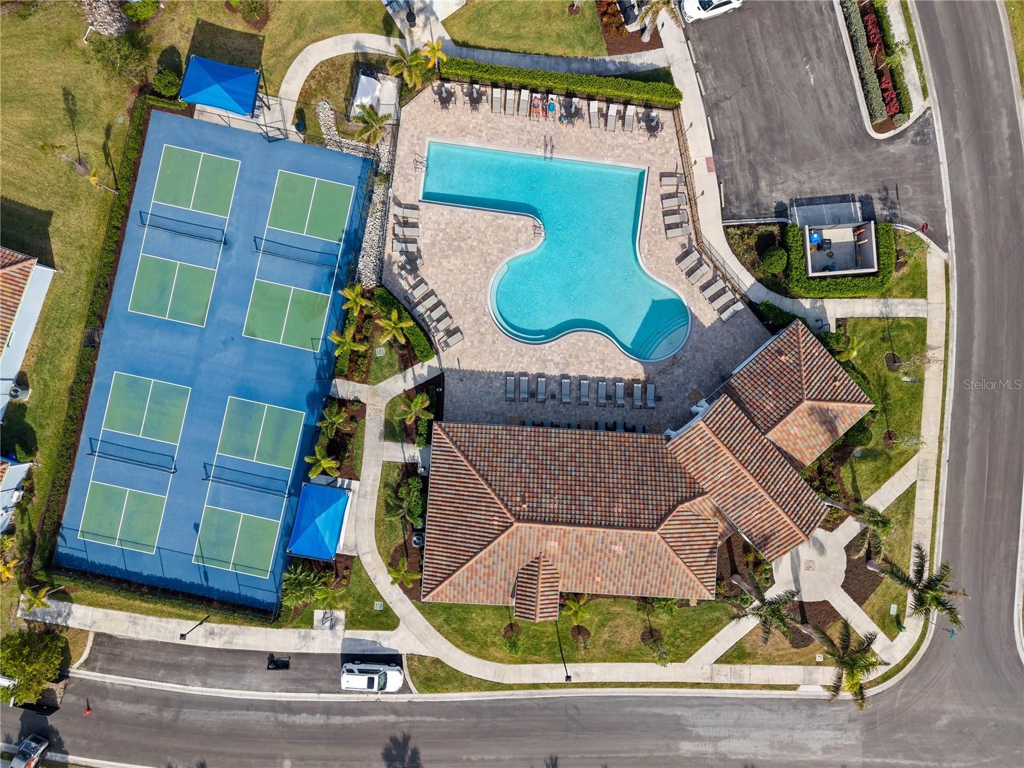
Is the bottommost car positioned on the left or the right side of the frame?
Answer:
left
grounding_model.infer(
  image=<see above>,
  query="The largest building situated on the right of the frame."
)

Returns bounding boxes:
[419,318,876,622]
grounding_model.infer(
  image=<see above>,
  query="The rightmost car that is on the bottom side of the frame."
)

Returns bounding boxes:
[340,659,405,695]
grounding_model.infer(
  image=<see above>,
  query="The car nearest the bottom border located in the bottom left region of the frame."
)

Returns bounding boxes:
[8,726,57,768]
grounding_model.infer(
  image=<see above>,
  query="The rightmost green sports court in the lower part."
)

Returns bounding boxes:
[192,396,305,579]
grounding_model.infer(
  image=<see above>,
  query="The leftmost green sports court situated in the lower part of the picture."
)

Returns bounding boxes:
[77,371,191,554]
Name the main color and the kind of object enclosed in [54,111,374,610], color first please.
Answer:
blue sports court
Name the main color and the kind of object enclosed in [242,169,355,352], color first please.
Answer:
green sports court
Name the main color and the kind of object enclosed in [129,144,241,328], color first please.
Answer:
green sports court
